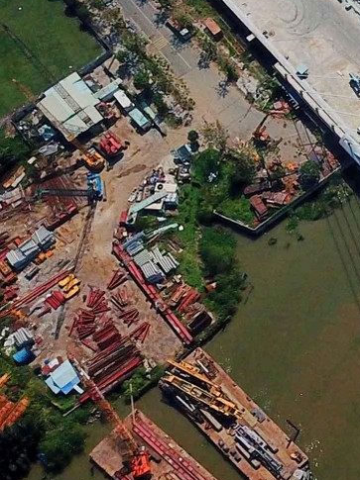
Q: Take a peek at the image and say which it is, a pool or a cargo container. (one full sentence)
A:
I can see a cargo container in this picture.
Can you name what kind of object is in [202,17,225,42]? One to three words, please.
shed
